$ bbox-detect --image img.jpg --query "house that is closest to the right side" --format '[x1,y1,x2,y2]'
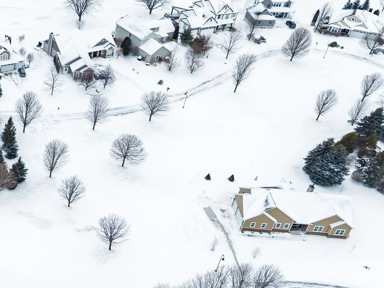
[323,0,380,42]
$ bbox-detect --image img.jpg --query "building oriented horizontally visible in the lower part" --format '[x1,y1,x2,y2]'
[229,177,355,241]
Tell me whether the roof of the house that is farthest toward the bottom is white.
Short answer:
Yes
